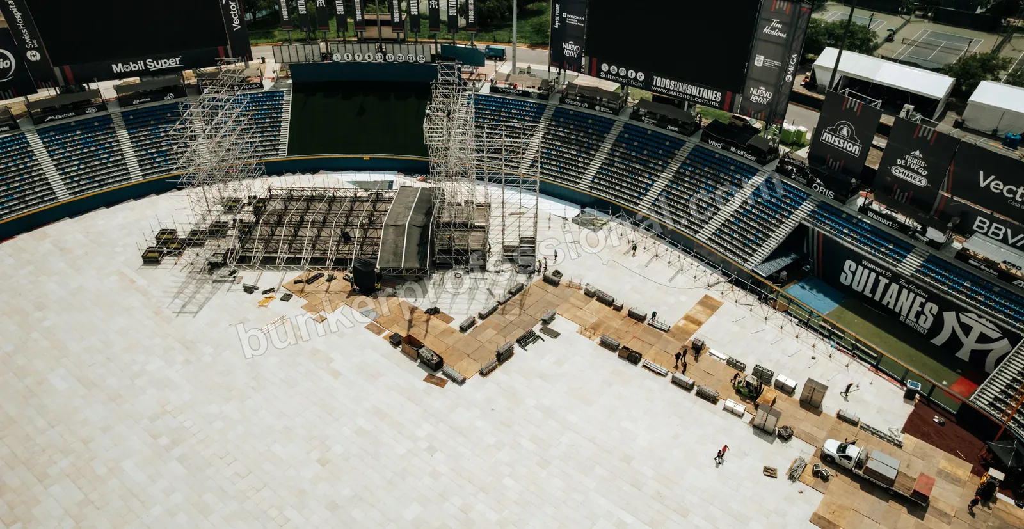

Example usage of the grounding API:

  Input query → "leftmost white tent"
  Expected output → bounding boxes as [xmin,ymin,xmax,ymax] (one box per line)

[808,44,963,119]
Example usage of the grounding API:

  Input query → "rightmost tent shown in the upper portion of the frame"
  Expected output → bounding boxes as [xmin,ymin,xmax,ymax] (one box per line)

[965,80,1024,142]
